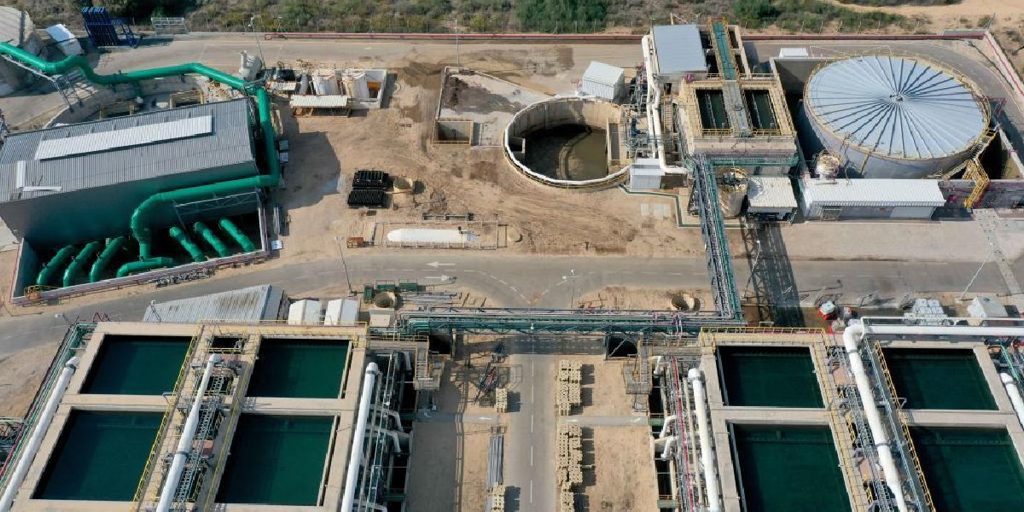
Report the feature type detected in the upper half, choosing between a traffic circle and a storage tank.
storage tank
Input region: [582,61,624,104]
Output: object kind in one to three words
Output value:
shed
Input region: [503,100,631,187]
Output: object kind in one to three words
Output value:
storage tank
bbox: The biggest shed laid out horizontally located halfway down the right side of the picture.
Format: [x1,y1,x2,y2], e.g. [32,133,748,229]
[796,181,944,224]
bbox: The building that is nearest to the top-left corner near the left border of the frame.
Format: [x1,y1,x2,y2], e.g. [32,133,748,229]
[44,23,81,56]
